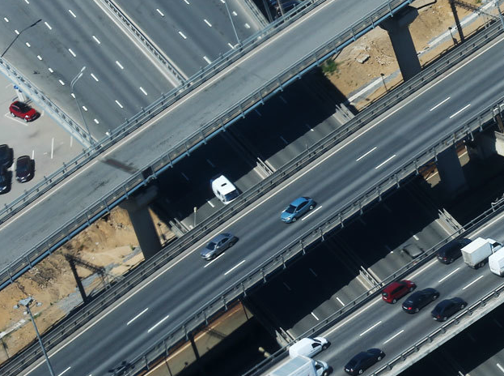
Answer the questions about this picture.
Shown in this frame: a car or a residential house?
car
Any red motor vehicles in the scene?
Yes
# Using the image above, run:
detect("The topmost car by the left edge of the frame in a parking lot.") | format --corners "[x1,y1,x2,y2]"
[7,98,38,122]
